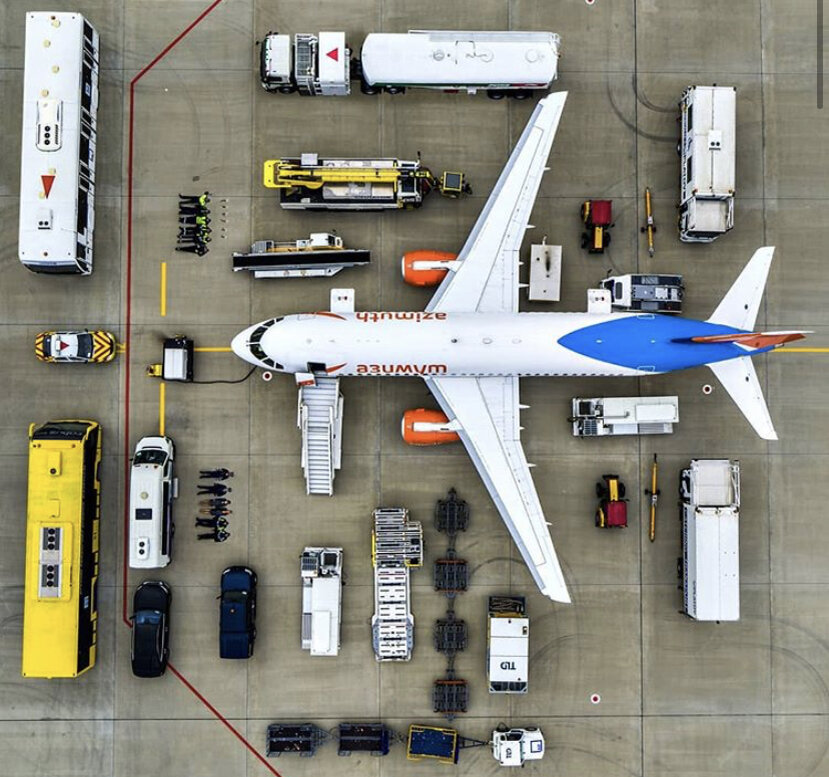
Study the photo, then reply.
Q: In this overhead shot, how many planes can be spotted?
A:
one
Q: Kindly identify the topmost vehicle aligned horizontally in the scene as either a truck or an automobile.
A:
truck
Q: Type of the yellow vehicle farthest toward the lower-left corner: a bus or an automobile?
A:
bus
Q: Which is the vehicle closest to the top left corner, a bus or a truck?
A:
bus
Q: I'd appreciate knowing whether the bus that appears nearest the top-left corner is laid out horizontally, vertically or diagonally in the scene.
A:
vertically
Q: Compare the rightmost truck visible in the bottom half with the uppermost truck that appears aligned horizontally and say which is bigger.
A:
the uppermost truck that appears aligned horizontally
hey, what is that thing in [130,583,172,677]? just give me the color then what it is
black car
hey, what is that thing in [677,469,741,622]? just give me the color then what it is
white truck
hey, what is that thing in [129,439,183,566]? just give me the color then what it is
white van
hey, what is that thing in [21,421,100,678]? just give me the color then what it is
yellow bus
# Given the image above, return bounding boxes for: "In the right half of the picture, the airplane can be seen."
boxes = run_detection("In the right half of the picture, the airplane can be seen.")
[232,91,814,604]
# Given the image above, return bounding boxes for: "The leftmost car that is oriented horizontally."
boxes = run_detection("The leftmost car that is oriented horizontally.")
[37,328,119,367]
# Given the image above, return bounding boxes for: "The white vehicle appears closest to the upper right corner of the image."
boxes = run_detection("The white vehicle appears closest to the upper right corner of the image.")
[676,86,738,245]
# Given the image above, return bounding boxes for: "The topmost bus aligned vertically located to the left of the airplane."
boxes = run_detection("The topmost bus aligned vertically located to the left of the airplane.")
[19,12,98,274]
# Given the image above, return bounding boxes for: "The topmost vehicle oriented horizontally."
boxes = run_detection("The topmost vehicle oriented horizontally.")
[253,32,559,99]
